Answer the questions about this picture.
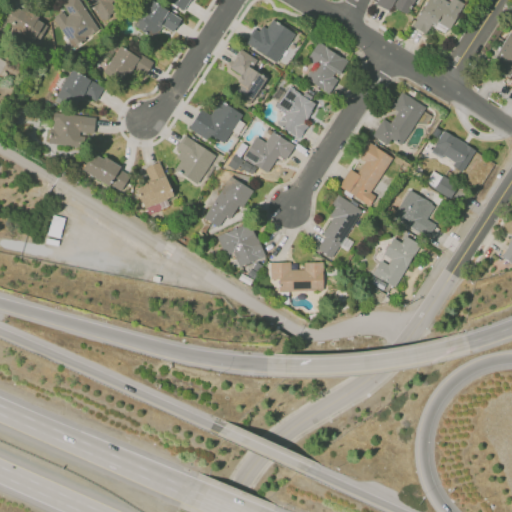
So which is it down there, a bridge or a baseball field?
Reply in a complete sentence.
Of the two, only a bridge appears.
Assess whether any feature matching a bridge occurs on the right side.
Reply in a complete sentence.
Yes, the scene does show a bridge on the right side.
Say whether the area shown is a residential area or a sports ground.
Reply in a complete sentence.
The area seen from above is a residential area.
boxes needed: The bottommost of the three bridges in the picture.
[196,476,302,512]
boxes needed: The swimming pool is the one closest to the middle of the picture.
[292,298,314,310]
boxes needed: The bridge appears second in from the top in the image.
[215,422,301,470]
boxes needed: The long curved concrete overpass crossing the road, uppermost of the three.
[266,330,474,378]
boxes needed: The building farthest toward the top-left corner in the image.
[5,8,48,38]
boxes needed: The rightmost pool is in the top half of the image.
[408,128,424,146]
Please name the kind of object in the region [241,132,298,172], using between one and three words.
house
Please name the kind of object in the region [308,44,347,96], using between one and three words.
house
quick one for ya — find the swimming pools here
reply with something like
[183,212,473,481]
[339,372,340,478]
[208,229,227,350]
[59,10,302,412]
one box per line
[246,121,264,142]
[264,104,277,123]
[216,138,235,154]
[408,128,424,146]
[292,298,314,310]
